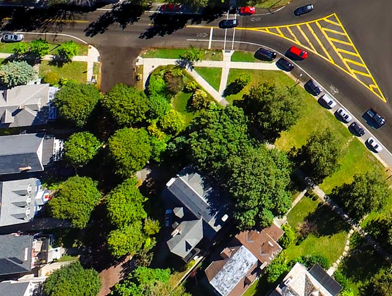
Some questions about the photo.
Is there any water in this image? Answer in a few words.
No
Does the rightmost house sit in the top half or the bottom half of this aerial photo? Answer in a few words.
bottom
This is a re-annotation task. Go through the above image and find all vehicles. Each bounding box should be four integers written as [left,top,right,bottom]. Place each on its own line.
[336,107,352,121]
[349,122,365,136]
[367,137,383,152]
[257,48,276,60]
[288,45,309,59]
[320,93,336,107]
[5,33,22,41]
[364,109,383,126]
[221,20,237,27]
[305,80,320,94]
[239,6,256,14]
[296,4,313,14]
[276,58,293,70]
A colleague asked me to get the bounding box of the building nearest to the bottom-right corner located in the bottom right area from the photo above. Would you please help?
[275,261,342,296]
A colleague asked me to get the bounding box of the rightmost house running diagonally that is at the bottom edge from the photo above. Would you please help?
[200,218,286,296]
